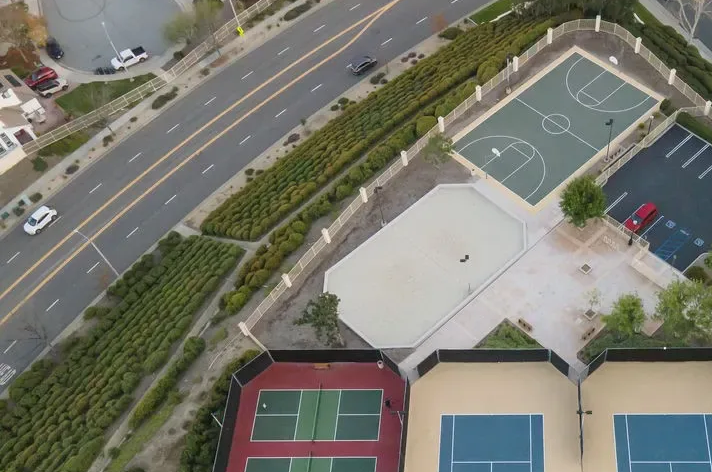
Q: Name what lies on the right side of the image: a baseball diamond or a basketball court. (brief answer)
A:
basketball court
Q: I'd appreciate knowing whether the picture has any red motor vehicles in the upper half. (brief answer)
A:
Yes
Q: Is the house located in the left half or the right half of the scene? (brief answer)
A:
left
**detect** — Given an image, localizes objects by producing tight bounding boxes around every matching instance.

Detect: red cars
[626,201,660,230]
[23,64,56,86]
